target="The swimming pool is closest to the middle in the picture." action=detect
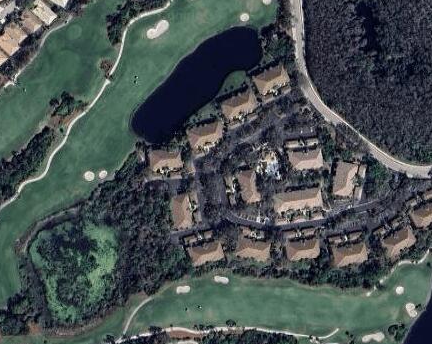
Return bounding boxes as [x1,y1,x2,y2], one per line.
[262,151,280,179]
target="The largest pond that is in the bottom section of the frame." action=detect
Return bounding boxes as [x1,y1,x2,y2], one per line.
[31,224,118,322]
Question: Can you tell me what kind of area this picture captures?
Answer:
golf course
